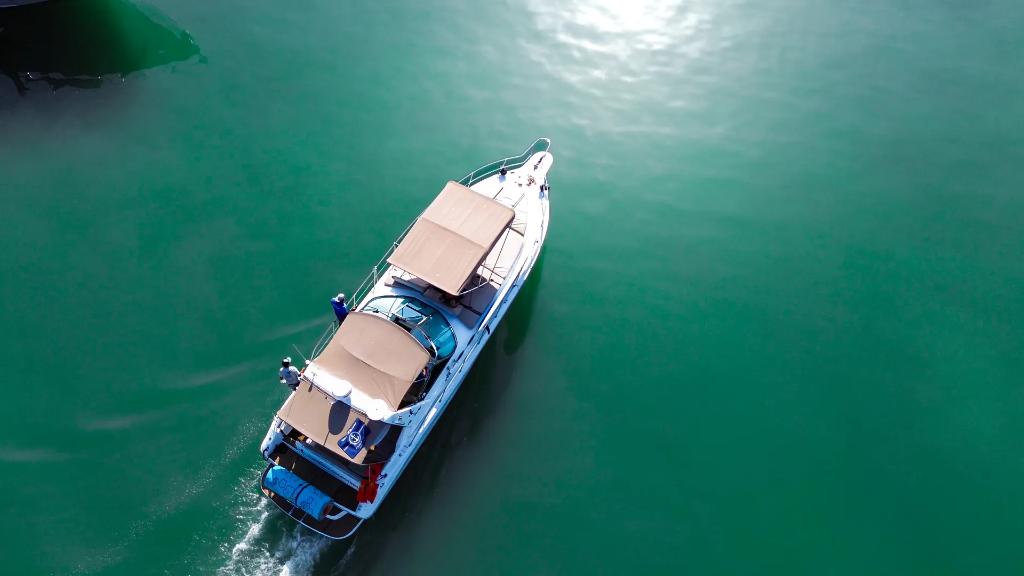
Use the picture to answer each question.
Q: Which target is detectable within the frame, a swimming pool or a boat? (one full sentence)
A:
It is a boat that can be seen here.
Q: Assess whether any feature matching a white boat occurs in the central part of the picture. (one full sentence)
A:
Yes, you'll find a white boat in the central part of the picture.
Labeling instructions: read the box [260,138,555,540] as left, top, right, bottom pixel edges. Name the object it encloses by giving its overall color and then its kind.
white boat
